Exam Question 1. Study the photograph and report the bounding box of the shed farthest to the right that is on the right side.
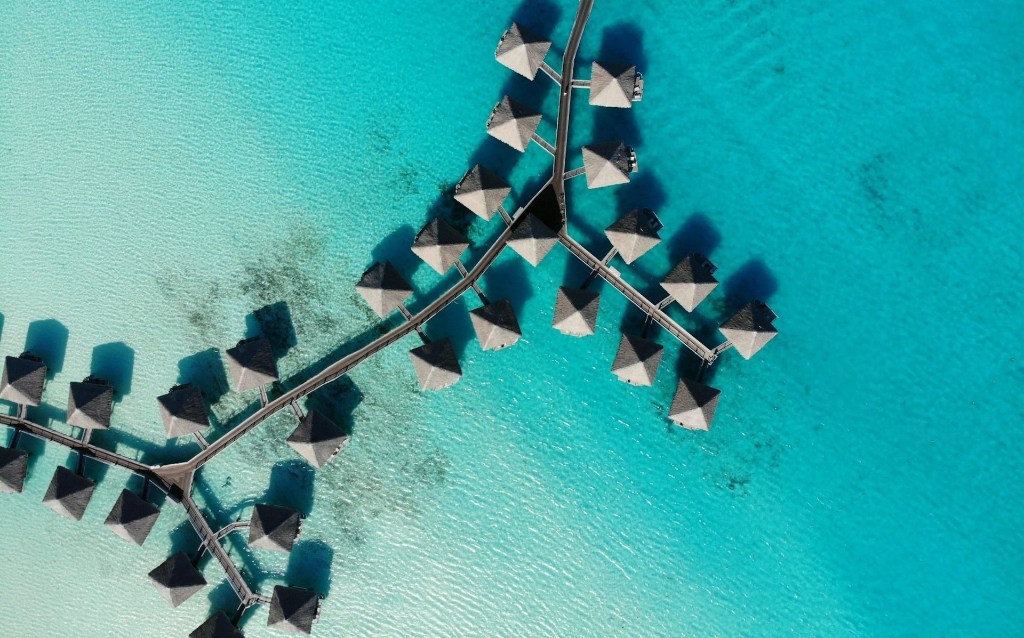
[719,300,778,360]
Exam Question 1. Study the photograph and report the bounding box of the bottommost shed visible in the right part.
[667,377,721,431]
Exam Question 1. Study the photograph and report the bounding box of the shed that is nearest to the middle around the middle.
[467,296,524,352]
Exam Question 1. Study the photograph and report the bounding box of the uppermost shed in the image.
[494,22,552,81]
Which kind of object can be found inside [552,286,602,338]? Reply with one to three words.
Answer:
shed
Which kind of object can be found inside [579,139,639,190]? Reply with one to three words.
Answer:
shed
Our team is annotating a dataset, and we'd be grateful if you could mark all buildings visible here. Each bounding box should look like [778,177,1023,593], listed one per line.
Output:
[226,336,280,391]
[268,585,324,634]
[579,139,639,190]
[552,286,602,338]
[408,336,464,391]
[0,444,35,494]
[41,465,100,521]
[188,611,249,638]
[609,332,664,387]
[506,213,560,267]
[485,95,544,152]
[287,408,348,468]
[719,300,778,360]
[103,488,163,546]
[0,353,52,408]
[355,258,415,319]
[149,548,210,607]
[249,503,305,553]
[410,216,471,276]
[667,377,721,431]
[588,60,644,110]
[66,376,117,429]
[602,206,664,266]
[156,383,210,439]
[659,252,720,313]
[453,163,512,222]
[467,296,524,352]
[494,22,552,81]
